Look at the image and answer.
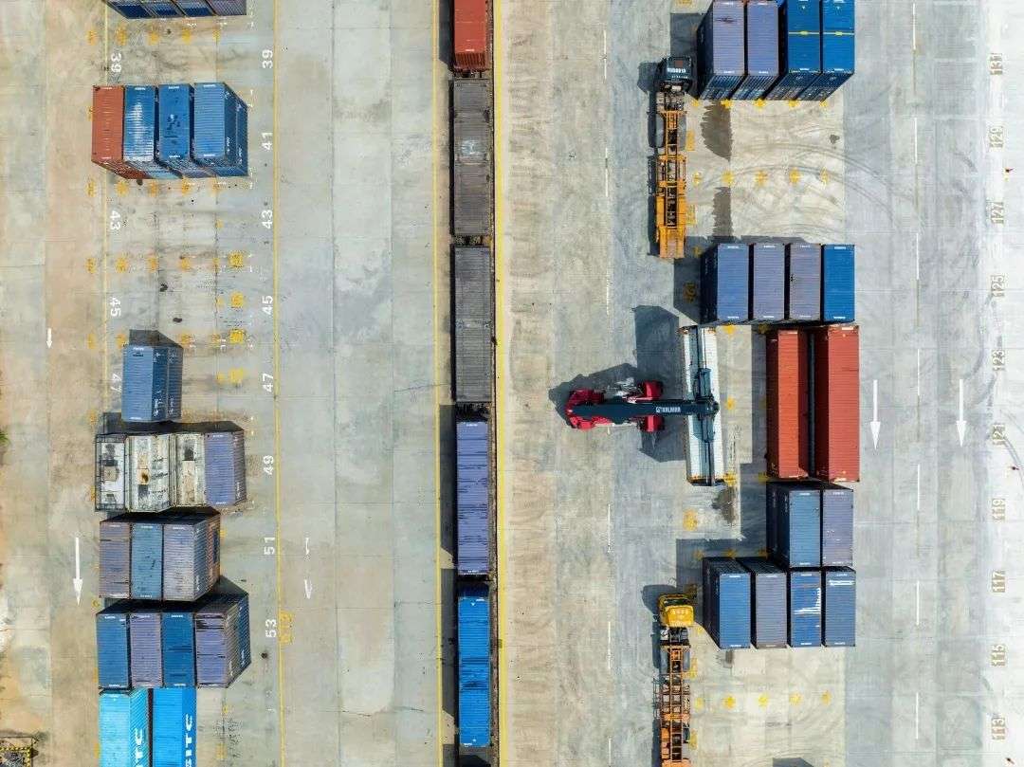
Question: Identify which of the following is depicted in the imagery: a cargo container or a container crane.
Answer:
cargo container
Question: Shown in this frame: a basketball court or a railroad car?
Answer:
railroad car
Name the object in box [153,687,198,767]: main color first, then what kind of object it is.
blue shipping container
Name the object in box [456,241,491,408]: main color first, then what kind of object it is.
gray rail car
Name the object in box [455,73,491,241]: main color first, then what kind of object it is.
gray rail car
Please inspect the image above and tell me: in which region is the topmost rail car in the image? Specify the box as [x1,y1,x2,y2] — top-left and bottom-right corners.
[455,0,490,79]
